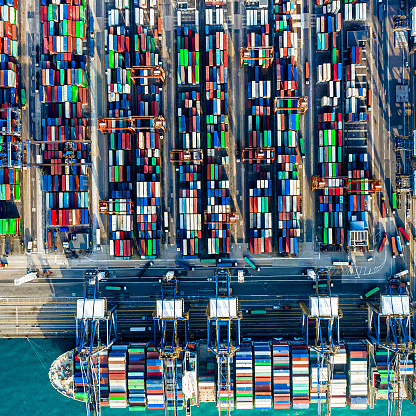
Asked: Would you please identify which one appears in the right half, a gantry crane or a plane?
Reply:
gantry crane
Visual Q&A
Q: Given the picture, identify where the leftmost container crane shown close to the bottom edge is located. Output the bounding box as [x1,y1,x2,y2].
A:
[74,274,124,416]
